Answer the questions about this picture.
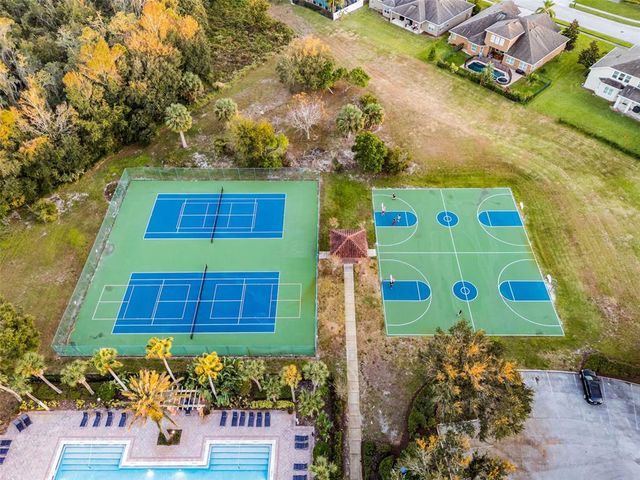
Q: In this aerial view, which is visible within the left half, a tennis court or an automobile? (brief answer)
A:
tennis court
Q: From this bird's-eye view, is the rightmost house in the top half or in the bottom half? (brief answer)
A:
top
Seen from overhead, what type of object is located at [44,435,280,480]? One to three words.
swimming pool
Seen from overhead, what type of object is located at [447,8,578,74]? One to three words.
house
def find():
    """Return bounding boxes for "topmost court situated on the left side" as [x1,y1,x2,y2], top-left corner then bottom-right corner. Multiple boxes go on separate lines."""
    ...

[101,179,318,254]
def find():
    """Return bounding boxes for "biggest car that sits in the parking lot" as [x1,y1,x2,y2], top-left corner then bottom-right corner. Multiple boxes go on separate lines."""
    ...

[581,367,609,402]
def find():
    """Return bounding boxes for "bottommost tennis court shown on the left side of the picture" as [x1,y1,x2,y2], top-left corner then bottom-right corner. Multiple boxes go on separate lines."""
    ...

[62,254,318,356]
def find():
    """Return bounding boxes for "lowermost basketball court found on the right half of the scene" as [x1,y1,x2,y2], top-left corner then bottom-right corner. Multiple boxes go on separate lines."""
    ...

[378,252,565,336]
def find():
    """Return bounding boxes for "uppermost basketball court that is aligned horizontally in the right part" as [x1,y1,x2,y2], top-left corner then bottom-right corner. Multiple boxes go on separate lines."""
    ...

[372,188,534,252]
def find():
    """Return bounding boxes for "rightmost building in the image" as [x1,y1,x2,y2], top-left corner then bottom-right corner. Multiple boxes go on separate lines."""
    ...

[583,44,640,121]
